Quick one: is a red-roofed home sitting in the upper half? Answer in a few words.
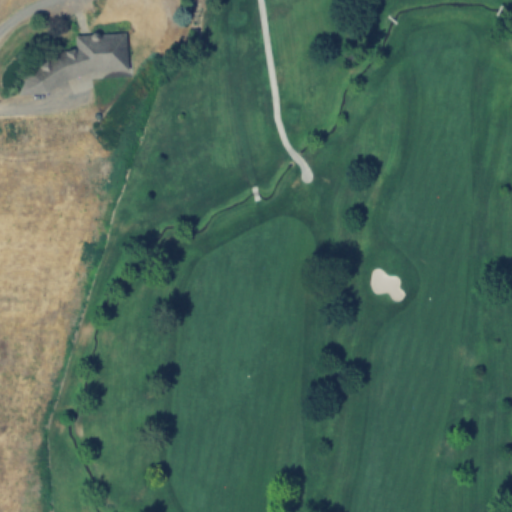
No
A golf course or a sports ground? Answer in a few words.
golf course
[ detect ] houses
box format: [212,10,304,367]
[26,32,132,92]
